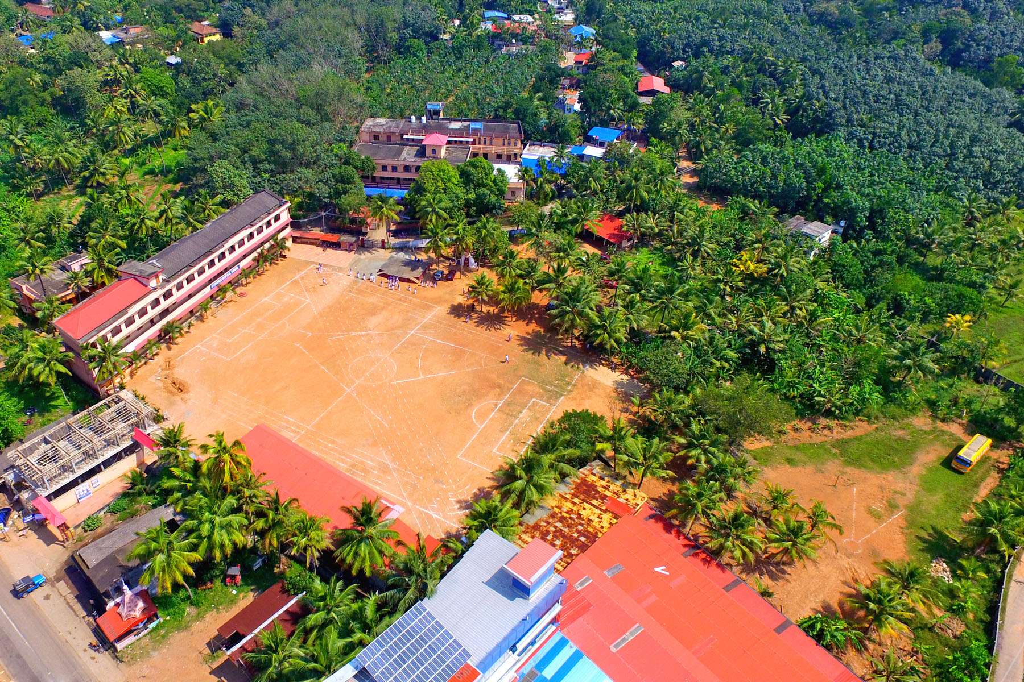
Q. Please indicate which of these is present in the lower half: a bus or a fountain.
bus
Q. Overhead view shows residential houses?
Yes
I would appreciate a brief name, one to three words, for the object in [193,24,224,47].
house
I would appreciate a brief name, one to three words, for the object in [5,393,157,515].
building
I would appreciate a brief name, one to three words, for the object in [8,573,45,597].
car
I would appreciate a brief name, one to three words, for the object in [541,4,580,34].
house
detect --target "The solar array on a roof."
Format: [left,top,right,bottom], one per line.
[343,597,473,682]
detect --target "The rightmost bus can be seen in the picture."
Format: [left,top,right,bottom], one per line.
[956,427,998,470]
